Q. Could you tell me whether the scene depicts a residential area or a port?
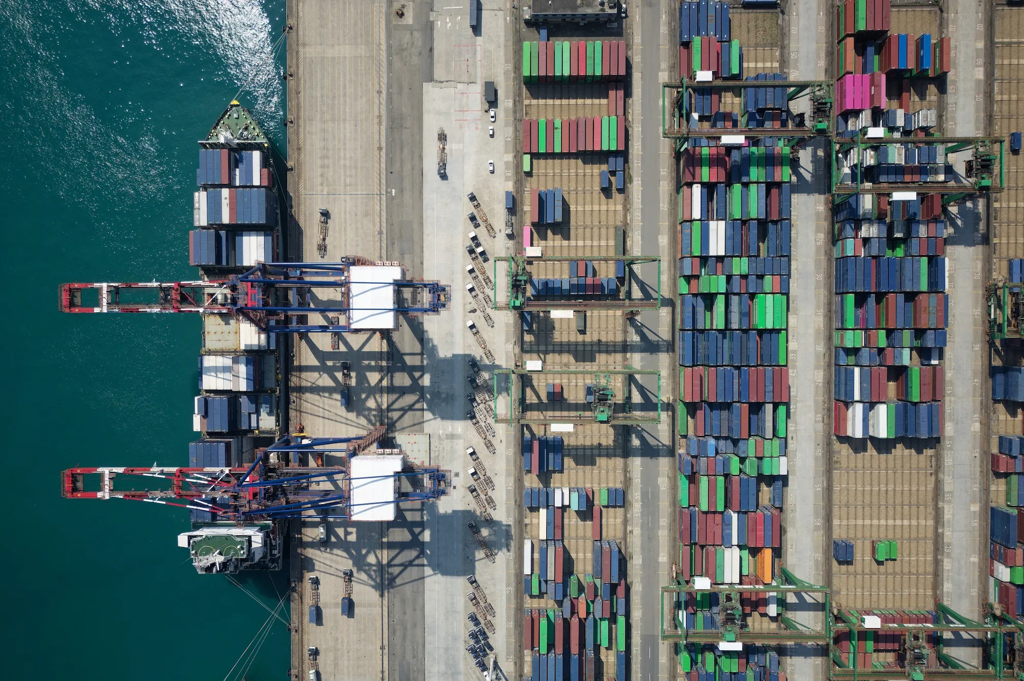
port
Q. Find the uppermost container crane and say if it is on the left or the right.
right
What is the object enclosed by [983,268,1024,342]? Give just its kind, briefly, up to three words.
container crane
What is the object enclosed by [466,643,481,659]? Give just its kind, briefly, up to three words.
work vehicle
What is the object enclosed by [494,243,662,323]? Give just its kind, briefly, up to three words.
container crane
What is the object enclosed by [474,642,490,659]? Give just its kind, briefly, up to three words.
work vehicle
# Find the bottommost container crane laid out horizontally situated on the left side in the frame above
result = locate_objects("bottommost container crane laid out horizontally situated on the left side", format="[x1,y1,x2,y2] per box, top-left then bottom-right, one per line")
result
[60,422,454,525]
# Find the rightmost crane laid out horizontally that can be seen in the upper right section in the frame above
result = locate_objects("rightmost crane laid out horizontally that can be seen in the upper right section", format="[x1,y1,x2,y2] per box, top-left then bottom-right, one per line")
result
[827,130,1002,213]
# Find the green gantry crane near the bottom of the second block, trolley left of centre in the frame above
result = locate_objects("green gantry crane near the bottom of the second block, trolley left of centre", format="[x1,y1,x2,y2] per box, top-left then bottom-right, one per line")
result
[660,554,828,651]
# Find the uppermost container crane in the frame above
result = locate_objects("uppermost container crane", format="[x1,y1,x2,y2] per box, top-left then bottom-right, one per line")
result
[663,75,834,161]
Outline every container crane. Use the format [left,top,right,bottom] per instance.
[494,349,661,434]
[983,268,1024,342]
[58,252,454,341]
[663,75,834,161]
[660,554,828,651]
[827,130,1002,213]
[494,243,662,323]
[60,422,454,525]
[823,591,995,681]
